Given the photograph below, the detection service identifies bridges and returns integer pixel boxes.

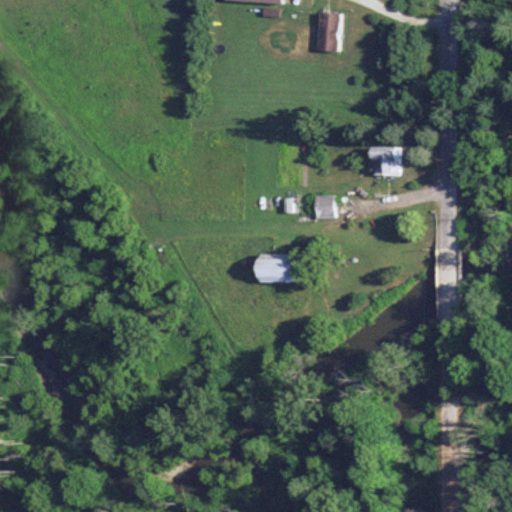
[438,242,461,332]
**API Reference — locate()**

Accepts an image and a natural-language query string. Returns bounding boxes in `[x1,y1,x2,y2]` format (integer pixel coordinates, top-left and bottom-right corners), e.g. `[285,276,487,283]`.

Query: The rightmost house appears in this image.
[368,147,404,180]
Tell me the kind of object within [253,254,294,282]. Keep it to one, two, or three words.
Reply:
barn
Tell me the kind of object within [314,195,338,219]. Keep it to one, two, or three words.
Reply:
house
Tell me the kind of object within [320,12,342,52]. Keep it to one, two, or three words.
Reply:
house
